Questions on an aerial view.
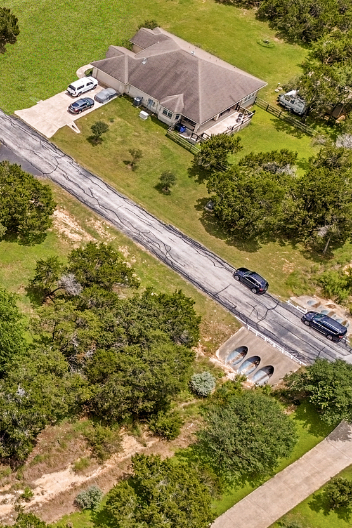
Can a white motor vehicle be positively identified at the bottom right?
No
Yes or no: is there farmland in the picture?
No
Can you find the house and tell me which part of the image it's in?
top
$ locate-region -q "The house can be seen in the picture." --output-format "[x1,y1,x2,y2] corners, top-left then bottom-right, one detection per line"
[89,27,270,140]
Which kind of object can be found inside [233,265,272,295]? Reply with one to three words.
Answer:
car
